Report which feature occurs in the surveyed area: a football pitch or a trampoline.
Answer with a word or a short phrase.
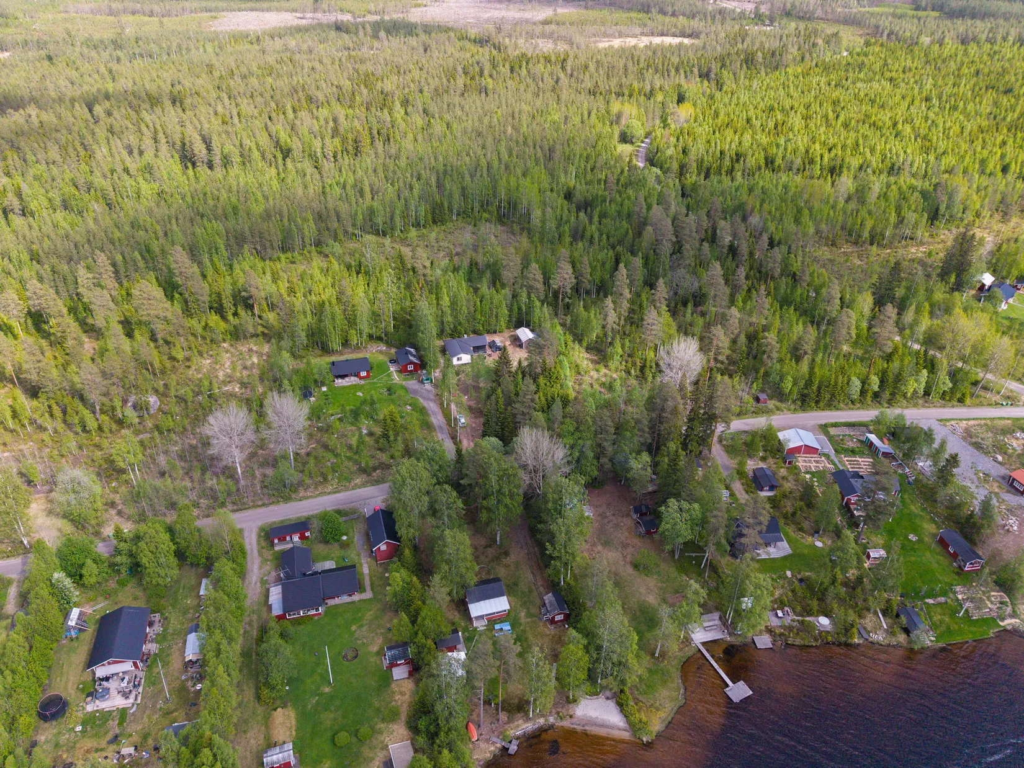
trampoline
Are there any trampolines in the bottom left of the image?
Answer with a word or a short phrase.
Yes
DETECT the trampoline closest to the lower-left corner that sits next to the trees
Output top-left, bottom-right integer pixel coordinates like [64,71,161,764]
[31,691,67,723]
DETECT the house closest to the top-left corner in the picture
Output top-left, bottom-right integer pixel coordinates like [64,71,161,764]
[330,357,371,387]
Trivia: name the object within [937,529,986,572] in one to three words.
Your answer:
building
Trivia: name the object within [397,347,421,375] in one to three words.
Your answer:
shed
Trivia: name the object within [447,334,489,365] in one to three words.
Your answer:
house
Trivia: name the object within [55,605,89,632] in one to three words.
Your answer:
greenhouse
